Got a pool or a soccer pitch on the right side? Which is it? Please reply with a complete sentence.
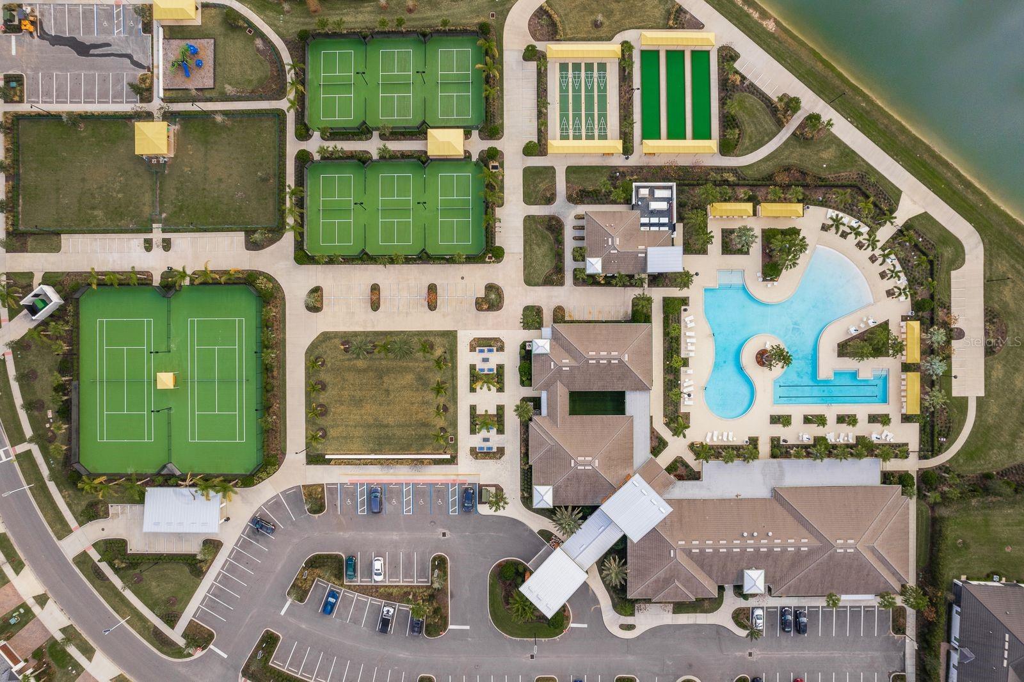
The feature located on the right side is a pool.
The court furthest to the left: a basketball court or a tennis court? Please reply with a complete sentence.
The court furthest to the left in the image is a tennis court.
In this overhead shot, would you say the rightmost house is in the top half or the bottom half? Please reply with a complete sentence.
Seen from above, the rightmost house lies in the bottom half of the view.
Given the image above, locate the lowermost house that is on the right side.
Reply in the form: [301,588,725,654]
[951,580,1024,682]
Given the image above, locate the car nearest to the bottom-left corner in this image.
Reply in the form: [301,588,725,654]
[251,516,275,535]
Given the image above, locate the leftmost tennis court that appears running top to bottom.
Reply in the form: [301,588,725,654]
[79,285,167,474]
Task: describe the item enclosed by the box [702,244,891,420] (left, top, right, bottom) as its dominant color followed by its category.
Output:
blue swimming pool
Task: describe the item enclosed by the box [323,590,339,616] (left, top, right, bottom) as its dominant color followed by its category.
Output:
blue car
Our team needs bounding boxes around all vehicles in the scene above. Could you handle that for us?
[792,674,803,682]
[573,674,583,682]
[251,516,275,535]
[794,608,808,634]
[378,604,394,635]
[323,590,339,616]
[370,486,382,513]
[463,487,474,512]
[780,606,793,632]
[373,556,384,581]
[345,555,357,580]
[411,612,423,635]
[751,673,762,682]
[15,15,39,42]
